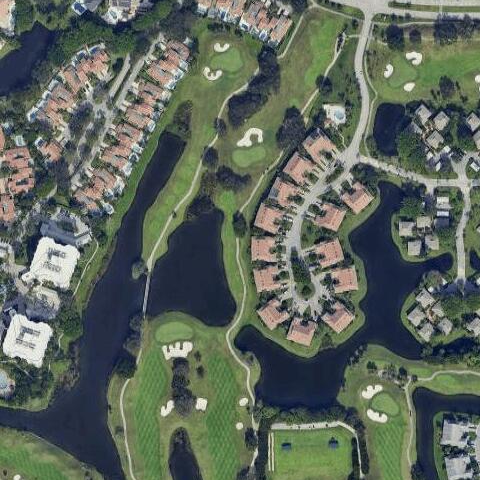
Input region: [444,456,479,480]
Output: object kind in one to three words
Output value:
house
